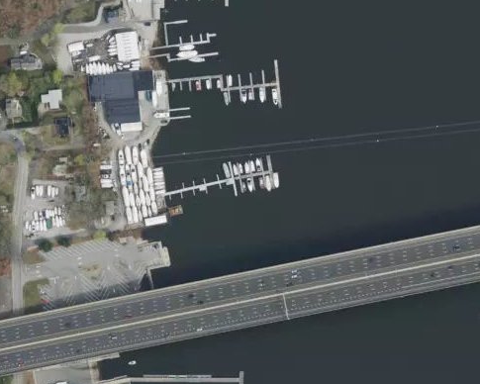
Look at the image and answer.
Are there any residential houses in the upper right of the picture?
No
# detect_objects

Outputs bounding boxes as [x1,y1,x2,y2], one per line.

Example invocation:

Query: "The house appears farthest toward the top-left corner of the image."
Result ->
[10,51,43,70]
